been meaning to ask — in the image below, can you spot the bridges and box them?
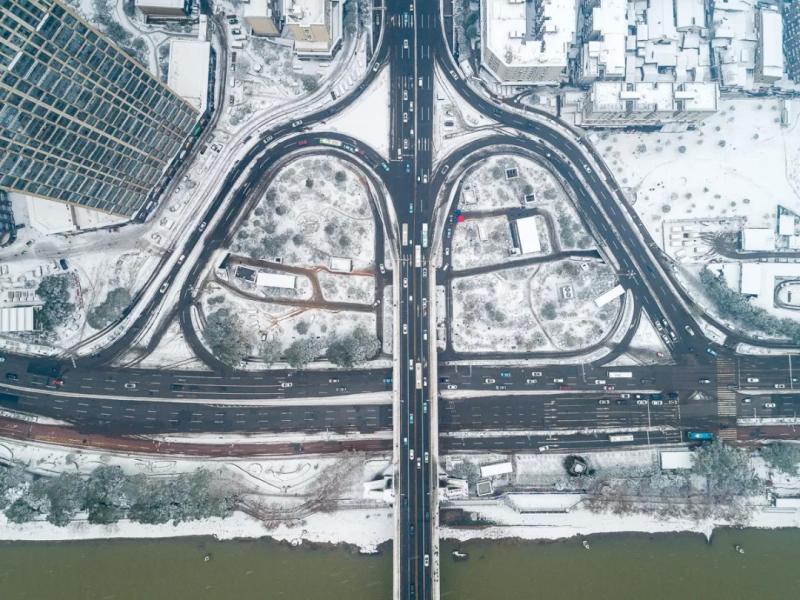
[393,205,438,600]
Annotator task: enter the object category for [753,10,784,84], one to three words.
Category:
house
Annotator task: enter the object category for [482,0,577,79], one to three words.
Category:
building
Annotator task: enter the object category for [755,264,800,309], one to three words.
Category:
building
